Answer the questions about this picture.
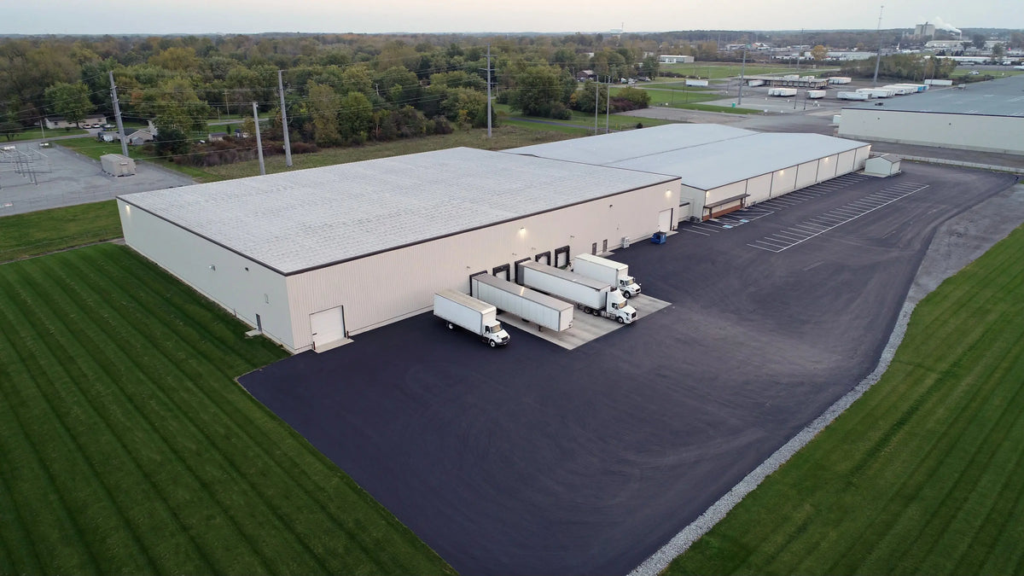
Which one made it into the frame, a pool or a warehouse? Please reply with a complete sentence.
Visible in the photo is a warehouse.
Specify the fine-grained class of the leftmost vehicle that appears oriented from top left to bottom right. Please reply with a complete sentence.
From above, the leftmost vehicle that appears oriented from top left to bottom right can be identified as a truck.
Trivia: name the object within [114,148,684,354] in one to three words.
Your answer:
warehouse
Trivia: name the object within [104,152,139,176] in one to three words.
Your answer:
building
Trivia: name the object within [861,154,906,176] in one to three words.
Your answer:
shed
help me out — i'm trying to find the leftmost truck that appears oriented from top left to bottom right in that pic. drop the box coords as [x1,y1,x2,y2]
[435,289,514,350]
